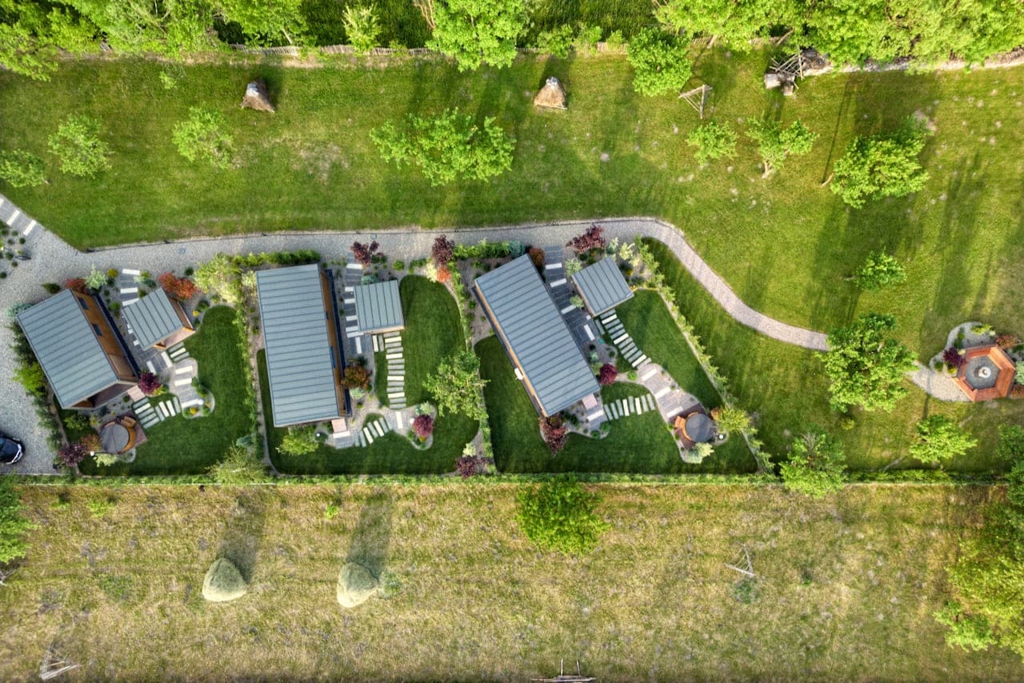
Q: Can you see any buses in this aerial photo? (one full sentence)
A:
No, there is no bus in the image.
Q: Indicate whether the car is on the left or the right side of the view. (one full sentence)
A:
It is on the left.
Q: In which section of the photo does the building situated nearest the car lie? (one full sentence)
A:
You can find the building situated nearest the car in the left area of the picture.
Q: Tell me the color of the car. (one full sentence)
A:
The color of the car is black.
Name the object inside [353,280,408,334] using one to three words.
shed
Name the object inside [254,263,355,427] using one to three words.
building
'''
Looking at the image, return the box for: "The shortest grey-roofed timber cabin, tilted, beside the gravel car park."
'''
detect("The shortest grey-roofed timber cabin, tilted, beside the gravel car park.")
[16,286,146,409]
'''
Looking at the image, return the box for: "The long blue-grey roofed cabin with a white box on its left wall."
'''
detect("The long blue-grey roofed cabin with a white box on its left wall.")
[473,253,600,417]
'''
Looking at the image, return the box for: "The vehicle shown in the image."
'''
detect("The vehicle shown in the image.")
[0,433,25,466]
